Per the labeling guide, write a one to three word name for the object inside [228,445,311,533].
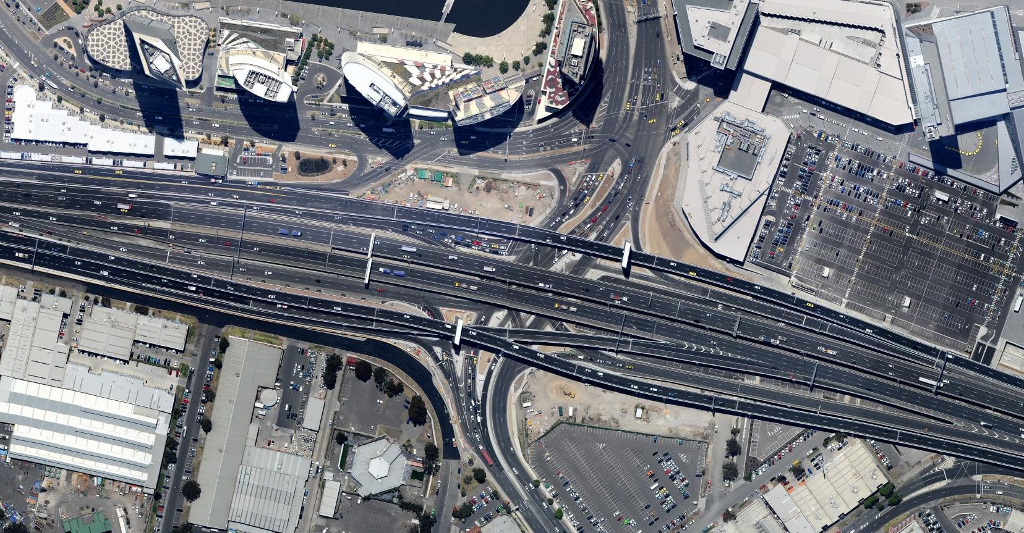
building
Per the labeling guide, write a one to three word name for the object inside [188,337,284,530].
building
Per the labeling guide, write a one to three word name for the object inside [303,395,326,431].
shed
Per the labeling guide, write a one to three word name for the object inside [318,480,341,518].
shed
